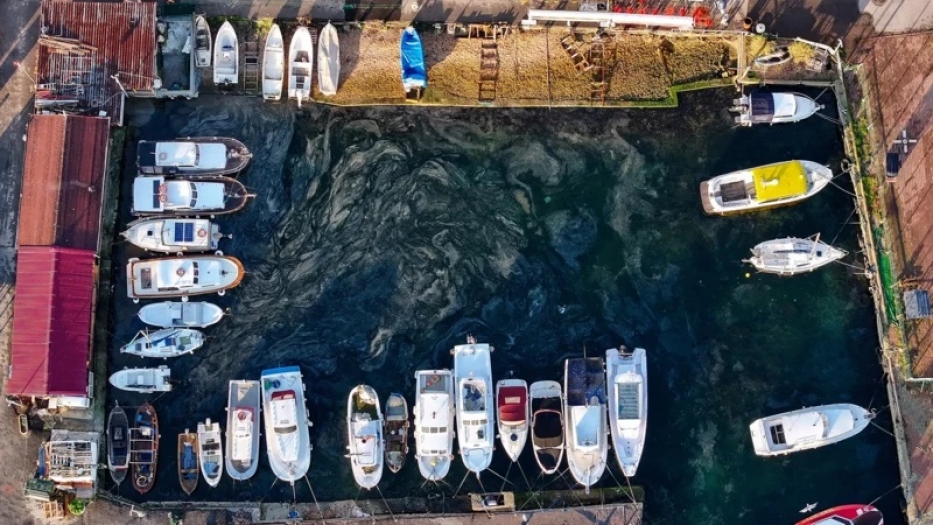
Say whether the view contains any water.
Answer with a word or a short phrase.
Yes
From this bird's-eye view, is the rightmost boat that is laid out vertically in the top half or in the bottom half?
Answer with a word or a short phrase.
bottom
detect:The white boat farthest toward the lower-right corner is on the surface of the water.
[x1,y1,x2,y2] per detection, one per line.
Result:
[743,379,891,460]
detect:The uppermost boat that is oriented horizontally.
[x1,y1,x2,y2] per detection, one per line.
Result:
[754,49,795,68]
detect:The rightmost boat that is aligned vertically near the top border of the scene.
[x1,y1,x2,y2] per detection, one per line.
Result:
[399,24,427,96]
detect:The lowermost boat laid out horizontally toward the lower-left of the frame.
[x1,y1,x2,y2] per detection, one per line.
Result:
[105,365,181,403]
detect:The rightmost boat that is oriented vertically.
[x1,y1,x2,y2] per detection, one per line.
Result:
[605,342,649,502]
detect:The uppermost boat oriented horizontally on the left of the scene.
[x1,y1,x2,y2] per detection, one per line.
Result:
[138,136,256,177]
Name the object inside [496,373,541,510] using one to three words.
boat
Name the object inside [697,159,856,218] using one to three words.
boat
